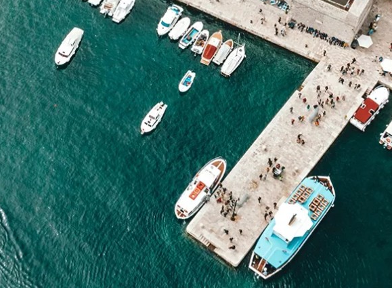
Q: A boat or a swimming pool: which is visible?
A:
boat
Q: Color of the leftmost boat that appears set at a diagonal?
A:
white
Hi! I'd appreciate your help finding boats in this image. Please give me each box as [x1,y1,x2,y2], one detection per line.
[52,25,88,68]
[219,28,247,80]
[378,122,392,152]
[179,69,194,93]
[140,100,169,134]
[156,3,186,36]
[88,0,104,7]
[198,29,223,68]
[212,39,234,67]
[351,86,389,133]
[177,21,203,52]
[99,0,118,16]
[167,17,190,41]
[188,30,210,57]
[174,156,227,224]
[111,0,136,27]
